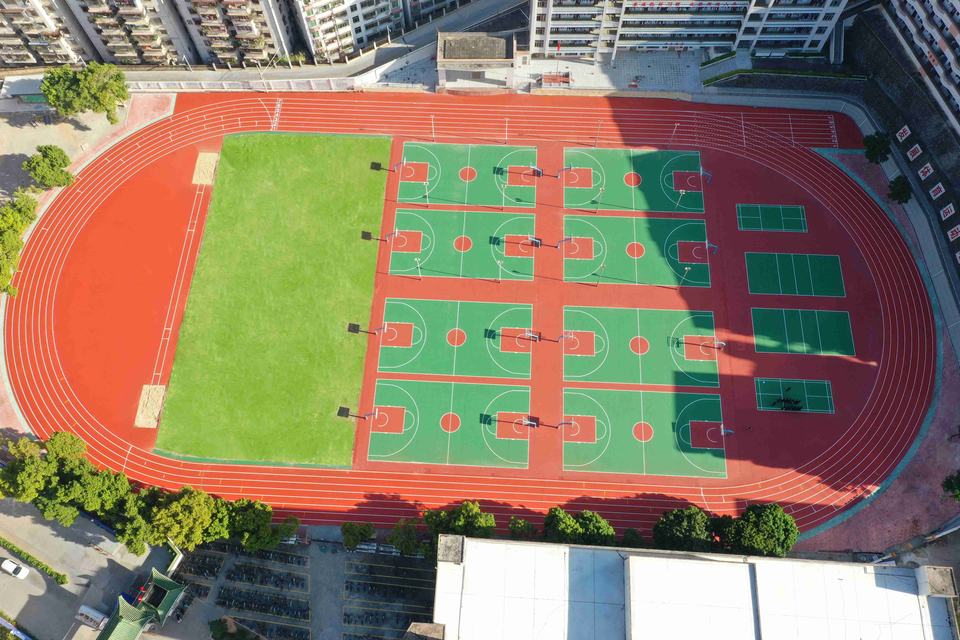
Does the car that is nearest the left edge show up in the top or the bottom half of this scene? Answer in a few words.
bottom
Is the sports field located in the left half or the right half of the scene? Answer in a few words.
left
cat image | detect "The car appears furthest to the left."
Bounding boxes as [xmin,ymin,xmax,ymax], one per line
[0,558,30,581]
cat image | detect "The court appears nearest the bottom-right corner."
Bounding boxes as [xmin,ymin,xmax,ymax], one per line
[755,378,834,413]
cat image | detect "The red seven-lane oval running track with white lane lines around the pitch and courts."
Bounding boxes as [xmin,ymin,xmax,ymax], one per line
[0,92,944,543]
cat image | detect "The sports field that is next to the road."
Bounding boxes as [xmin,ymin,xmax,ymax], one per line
[154,130,391,469]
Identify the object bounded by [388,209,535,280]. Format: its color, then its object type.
green basketball court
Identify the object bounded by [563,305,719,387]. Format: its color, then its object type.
green basketball court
